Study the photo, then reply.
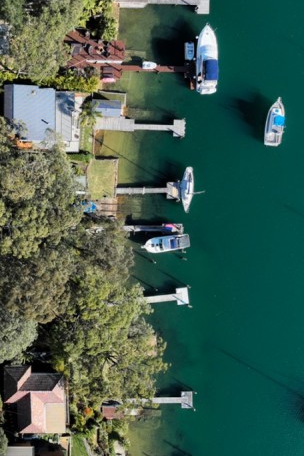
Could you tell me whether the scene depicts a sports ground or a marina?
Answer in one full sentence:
This image shows a marina.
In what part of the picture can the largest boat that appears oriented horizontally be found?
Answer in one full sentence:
The largest boat that appears oriented horizontally appears toward the center of the photo.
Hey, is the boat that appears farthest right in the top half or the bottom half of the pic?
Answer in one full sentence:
Seen from above, the boat that appears farthest right lies in the top half of the view.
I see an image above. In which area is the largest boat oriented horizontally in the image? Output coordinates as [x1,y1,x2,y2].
[139,233,192,253]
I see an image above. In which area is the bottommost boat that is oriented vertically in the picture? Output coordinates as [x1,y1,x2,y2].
[181,166,204,213]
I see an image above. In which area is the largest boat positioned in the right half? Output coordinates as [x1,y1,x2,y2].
[192,23,224,94]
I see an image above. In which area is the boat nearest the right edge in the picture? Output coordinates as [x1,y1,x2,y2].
[264,94,287,145]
